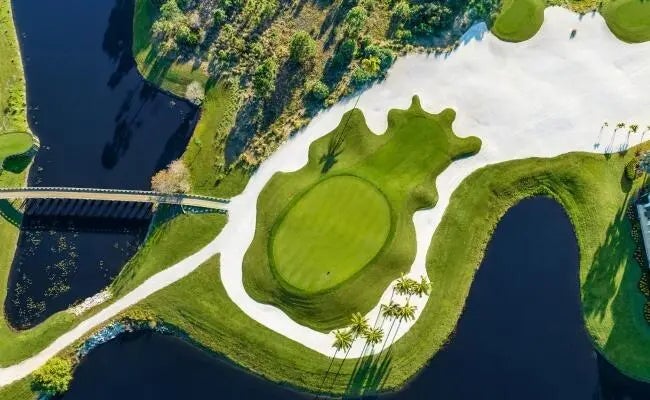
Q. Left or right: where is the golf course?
right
